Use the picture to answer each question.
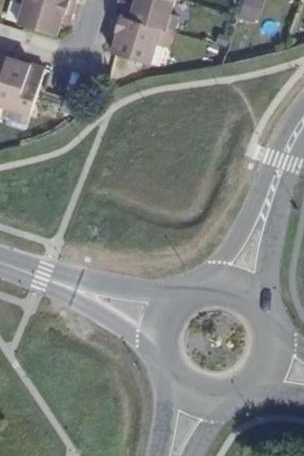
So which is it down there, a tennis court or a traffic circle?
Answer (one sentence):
It is a traffic circle that can be seen here.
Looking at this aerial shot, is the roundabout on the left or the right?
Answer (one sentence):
The roundabout appears in the right half of the scene.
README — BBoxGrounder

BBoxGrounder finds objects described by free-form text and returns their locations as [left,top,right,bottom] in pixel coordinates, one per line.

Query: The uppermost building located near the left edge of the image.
[10,0,76,36]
